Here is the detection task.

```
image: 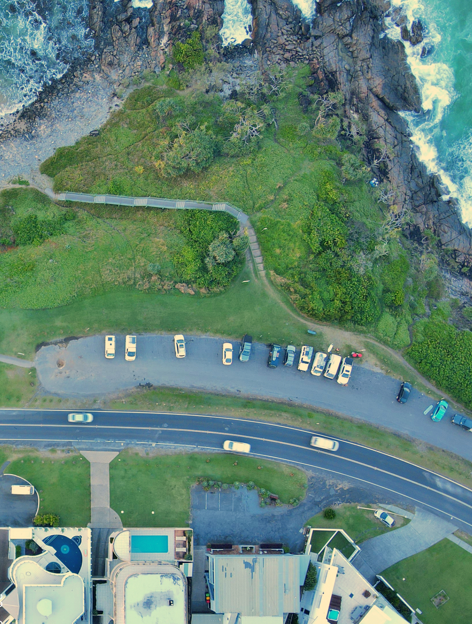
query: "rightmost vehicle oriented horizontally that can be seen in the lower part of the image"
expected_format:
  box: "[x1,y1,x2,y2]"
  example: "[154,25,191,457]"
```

[314,437,339,450]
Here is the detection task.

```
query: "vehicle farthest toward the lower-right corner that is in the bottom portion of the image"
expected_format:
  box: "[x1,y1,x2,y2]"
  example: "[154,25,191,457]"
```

[377,508,397,529]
